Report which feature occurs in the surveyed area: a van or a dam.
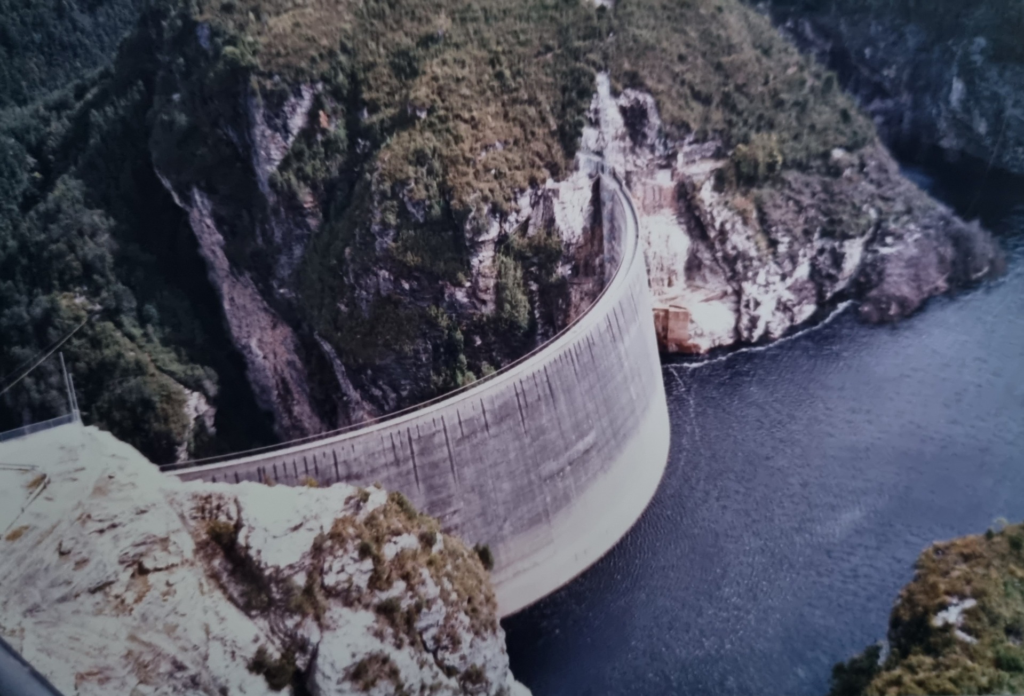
dam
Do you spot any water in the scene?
Yes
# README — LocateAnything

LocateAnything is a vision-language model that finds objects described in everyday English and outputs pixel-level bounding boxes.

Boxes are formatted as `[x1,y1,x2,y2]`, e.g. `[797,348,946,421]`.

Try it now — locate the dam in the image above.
[152,165,672,627]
